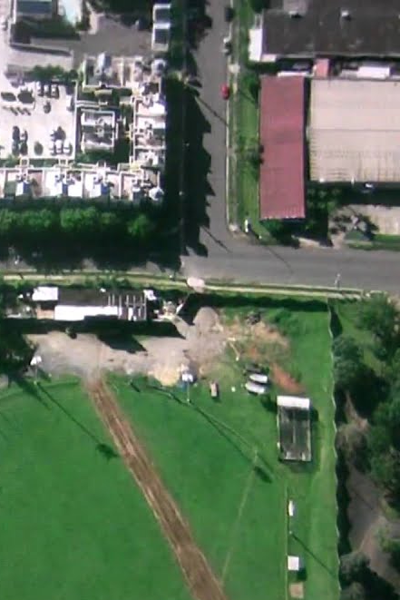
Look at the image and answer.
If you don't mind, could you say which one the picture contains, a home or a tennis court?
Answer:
home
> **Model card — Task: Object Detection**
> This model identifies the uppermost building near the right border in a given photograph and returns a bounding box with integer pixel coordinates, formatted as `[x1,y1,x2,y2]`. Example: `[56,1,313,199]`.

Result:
[261,0,400,64]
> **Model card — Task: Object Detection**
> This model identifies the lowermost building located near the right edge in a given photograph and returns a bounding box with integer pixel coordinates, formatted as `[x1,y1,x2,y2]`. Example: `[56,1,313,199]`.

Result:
[307,79,400,188]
